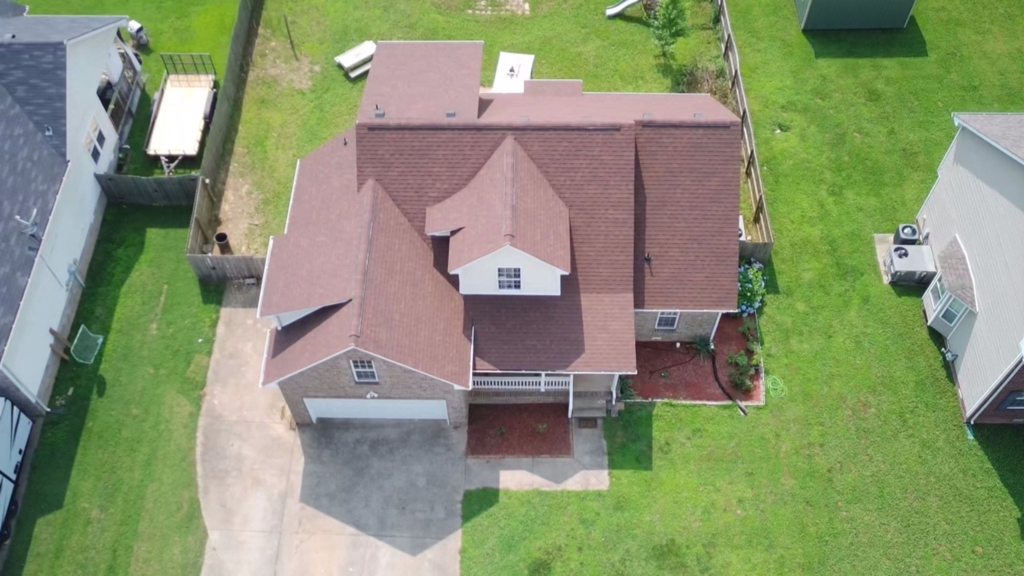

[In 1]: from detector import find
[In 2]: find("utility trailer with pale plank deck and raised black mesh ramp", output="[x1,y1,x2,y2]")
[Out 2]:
[143,56,218,176]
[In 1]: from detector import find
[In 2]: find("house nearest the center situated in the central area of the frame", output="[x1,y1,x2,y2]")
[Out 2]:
[255,39,741,426]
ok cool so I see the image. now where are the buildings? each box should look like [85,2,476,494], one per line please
[795,0,920,29]
[914,112,1024,428]
[0,0,140,414]
[255,39,741,426]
